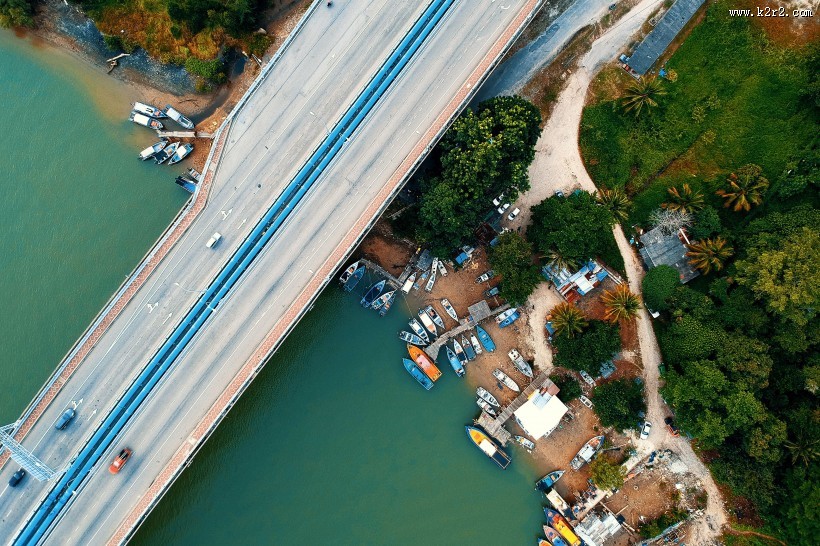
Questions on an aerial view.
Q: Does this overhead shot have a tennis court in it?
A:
No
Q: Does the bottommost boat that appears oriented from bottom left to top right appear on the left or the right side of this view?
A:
right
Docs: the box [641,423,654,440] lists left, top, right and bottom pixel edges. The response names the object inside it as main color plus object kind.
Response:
white vehicle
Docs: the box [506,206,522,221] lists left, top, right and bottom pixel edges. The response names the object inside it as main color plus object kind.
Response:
white car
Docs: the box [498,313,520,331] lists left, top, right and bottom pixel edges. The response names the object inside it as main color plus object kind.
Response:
blue boat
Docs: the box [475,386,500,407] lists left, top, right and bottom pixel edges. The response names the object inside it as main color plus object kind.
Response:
white boat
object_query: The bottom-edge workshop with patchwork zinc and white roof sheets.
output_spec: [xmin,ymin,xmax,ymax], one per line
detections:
[574,510,622,546]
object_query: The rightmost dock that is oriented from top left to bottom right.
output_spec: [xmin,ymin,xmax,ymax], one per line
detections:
[475,410,511,444]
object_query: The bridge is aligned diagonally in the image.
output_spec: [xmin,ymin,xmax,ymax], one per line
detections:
[0,0,546,546]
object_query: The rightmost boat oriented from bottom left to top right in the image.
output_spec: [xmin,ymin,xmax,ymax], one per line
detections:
[570,436,605,472]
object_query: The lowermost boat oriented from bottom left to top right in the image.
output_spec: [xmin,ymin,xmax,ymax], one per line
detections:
[536,470,565,492]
